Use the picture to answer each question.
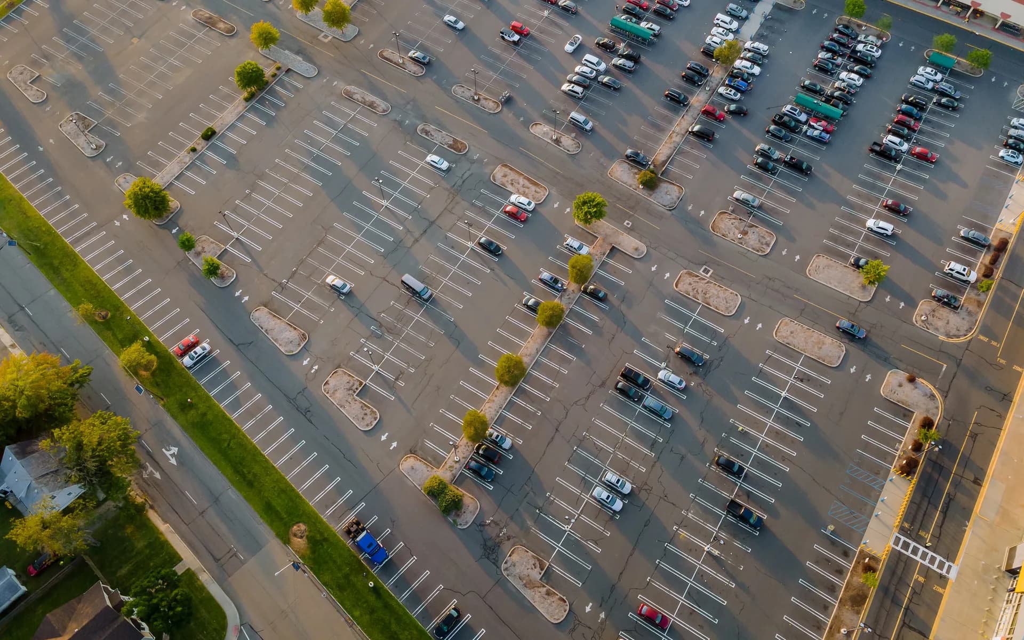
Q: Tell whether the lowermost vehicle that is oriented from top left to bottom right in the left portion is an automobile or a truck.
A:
truck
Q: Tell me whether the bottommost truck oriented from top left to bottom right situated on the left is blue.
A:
Yes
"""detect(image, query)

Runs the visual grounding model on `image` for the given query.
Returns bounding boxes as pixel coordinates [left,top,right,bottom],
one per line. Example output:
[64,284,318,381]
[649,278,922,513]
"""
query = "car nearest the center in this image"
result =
[518,295,540,313]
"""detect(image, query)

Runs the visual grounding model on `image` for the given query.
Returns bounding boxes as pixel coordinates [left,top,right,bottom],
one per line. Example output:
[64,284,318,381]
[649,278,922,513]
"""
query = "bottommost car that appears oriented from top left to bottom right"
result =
[635,602,672,633]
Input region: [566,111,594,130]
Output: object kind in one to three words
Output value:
car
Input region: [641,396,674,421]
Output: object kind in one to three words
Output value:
car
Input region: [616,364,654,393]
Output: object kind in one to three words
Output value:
truck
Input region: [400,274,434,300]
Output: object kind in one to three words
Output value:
vehicle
